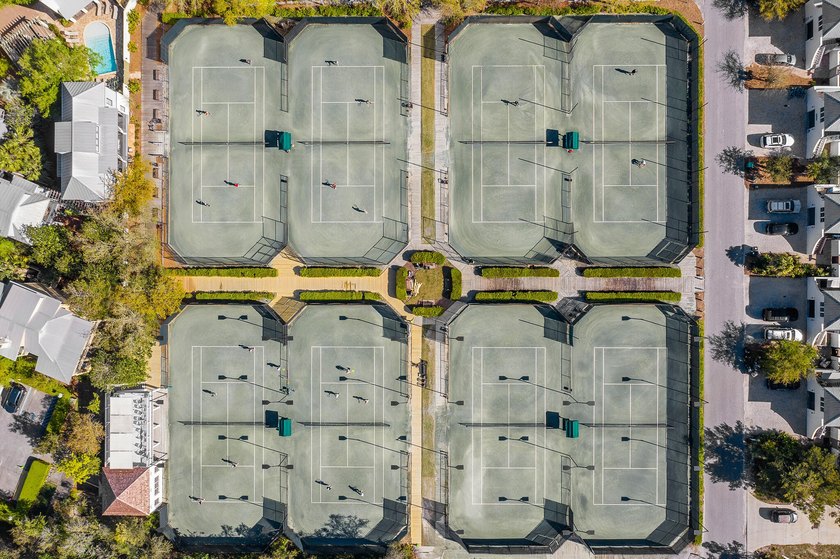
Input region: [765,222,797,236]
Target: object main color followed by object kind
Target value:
black car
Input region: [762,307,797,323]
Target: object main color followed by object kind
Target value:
black car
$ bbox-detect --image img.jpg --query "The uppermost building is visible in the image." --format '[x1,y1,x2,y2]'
[43,0,97,29]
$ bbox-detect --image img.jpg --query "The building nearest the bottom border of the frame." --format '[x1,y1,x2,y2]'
[101,459,162,516]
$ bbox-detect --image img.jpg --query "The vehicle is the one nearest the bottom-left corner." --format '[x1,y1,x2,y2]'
[3,382,26,414]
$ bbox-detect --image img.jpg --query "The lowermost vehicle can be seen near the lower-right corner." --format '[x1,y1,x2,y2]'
[770,508,797,524]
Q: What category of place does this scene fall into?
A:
sports ground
